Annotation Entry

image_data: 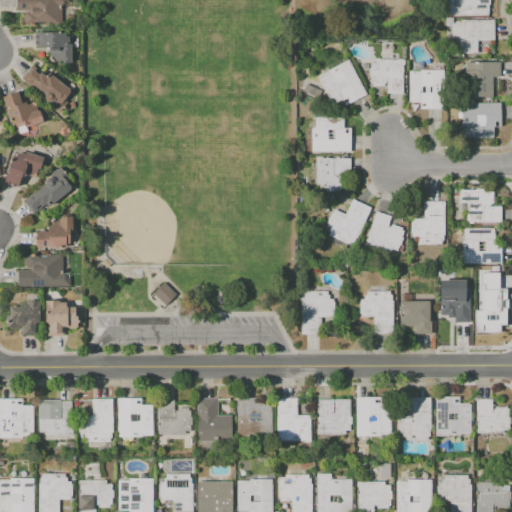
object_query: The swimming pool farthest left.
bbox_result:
[126,459,150,474]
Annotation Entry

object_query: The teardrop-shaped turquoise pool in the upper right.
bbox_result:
[411,45,432,64]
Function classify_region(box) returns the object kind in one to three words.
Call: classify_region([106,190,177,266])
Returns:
baseball field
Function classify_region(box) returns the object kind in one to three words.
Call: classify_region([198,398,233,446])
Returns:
house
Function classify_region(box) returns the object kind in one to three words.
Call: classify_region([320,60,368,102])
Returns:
house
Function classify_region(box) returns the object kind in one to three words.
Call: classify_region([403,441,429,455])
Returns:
swimming pool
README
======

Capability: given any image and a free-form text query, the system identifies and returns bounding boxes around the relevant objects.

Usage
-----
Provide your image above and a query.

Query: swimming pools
[351,46,372,60]
[323,272,342,290]
[126,459,150,474]
[210,464,230,476]
[411,45,432,64]
[403,441,429,455]
[448,442,466,452]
